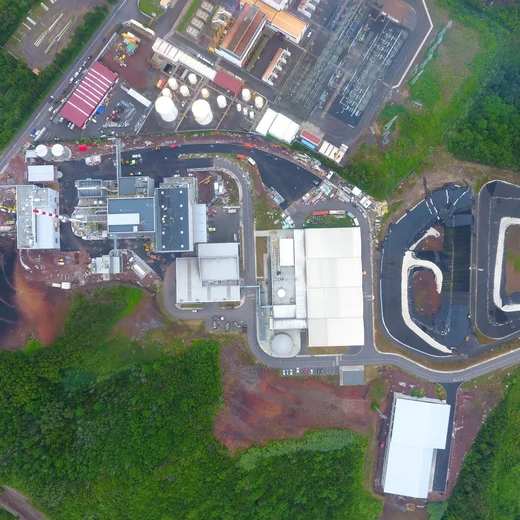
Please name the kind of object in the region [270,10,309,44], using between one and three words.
building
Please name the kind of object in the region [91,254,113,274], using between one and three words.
house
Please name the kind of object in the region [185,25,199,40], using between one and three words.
cooling tower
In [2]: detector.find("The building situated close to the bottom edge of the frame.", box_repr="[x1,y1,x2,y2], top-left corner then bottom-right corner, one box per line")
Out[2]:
[381,395,451,499]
